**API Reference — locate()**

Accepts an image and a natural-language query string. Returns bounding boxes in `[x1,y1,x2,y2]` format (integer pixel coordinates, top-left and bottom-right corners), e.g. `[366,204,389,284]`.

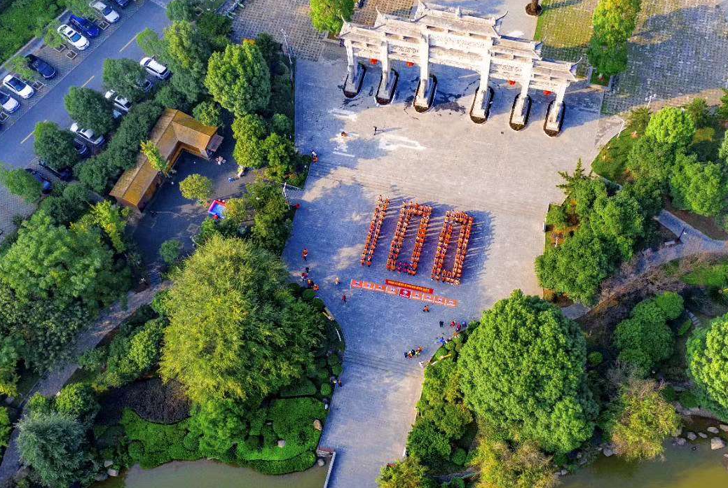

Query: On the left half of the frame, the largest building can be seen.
[110,103,240,218]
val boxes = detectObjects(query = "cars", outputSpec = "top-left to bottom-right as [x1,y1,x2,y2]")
[135,52,173,83]
[0,70,41,103]
[63,9,105,41]
[102,87,134,114]
[34,160,79,183]
[130,72,157,95]
[106,0,134,11]
[88,0,125,26]
[55,20,94,52]
[23,50,62,82]
[24,165,59,197]
[0,85,27,116]
[65,119,110,151]
[65,131,95,161]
